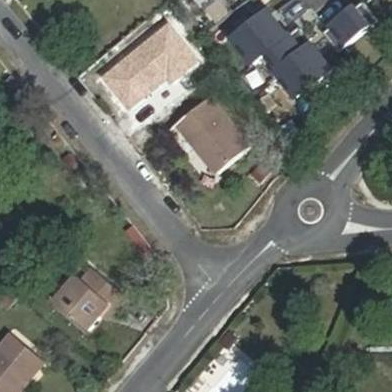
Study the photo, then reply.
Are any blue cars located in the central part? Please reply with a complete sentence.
No, there is no blue car in the central part.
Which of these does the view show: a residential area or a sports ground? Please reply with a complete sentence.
It's a residential area.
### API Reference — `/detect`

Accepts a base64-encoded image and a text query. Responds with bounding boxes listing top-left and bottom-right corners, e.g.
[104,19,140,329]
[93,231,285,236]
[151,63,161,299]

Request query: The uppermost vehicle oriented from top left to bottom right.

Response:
[2,19,22,39]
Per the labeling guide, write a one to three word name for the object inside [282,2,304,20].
car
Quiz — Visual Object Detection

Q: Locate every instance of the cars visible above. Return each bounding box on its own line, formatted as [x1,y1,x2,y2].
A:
[62,121,80,139]
[163,197,180,214]
[136,162,154,182]
[135,104,156,122]
[68,78,88,98]
[2,19,22,39]
[282,2,304,20]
